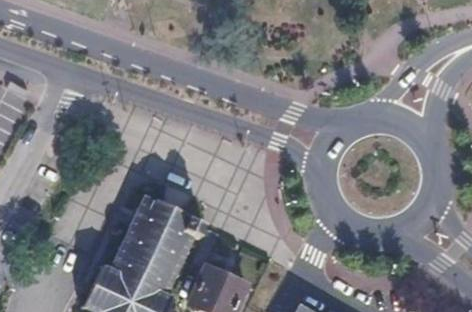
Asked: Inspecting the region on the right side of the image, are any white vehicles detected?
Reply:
Yes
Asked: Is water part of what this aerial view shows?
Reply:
No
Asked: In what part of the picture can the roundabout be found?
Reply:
right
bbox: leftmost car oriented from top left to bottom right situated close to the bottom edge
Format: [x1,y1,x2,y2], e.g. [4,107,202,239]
[304,294,324,311]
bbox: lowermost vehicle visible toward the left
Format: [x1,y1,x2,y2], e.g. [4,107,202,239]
[178,276,192,297]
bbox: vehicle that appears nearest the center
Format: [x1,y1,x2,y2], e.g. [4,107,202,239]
[166,172,191,189]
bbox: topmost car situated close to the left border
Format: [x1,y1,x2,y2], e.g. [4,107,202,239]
[22,122,36,144]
